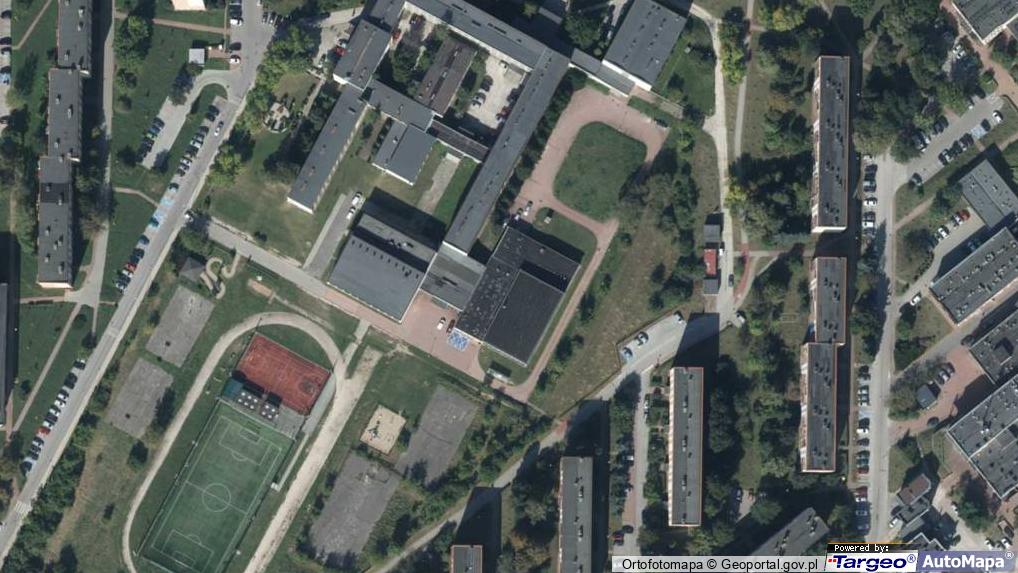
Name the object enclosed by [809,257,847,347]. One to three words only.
building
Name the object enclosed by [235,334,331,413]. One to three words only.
sports court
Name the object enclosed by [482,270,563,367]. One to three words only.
building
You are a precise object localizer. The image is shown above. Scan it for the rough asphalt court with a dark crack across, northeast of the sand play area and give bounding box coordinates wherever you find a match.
[396,386,478,485]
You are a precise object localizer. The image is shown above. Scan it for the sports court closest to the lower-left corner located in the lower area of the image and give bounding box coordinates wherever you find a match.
[106,358,173,438]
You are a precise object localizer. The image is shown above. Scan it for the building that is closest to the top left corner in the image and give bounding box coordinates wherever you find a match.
[58,0,91,75]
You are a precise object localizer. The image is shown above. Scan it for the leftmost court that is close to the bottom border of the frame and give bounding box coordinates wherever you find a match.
[311,450,399,559]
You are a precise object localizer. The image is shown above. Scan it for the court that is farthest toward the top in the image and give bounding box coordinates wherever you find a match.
[146,286,214,367]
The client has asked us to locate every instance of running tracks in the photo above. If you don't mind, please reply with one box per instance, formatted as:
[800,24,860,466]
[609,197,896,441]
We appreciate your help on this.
[125,313,383,573]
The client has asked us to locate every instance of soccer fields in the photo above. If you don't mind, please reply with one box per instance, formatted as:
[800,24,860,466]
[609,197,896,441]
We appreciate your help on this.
[139,400,295,573]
